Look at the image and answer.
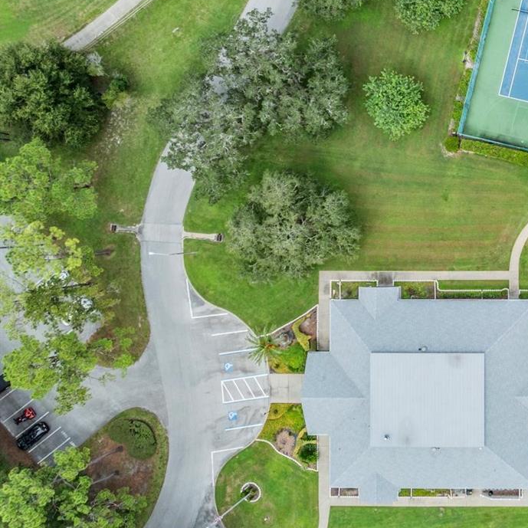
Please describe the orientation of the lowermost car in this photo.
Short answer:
diagonally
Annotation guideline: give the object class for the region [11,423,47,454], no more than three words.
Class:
car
